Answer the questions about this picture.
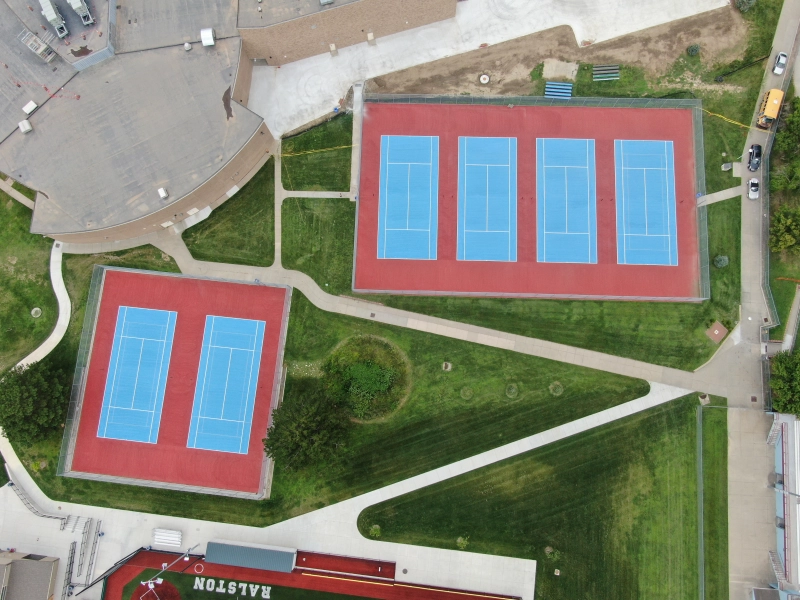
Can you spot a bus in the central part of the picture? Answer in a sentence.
No, no bus is visible in the central part of the picture.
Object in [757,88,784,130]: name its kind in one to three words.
bus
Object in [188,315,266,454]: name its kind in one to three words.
tennis court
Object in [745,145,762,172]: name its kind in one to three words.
car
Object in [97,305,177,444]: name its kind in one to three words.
tennis court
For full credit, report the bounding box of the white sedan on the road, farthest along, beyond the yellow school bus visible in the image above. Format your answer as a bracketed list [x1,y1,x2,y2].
[770,52,788,77]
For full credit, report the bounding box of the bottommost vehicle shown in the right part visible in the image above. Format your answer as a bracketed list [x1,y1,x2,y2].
[745,177,760,201]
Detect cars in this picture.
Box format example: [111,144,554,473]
[745,145,762,172]
[745,177,760,201]
[770,52,788,77]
